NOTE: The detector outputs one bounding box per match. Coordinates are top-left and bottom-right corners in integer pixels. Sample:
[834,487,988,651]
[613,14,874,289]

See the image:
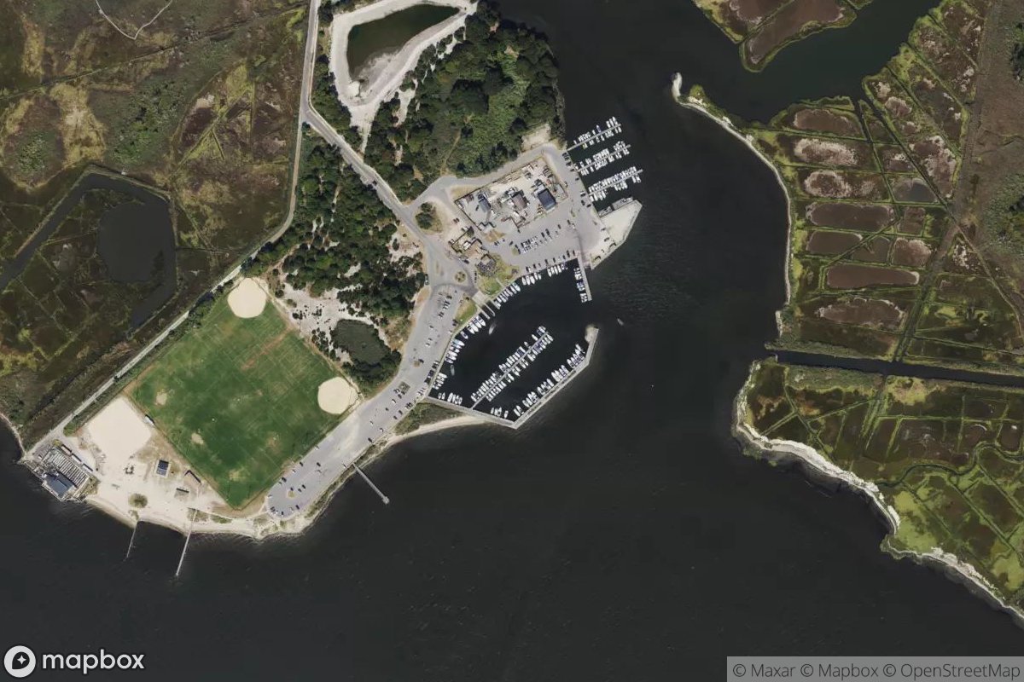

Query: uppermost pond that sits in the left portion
[347,4,458,77]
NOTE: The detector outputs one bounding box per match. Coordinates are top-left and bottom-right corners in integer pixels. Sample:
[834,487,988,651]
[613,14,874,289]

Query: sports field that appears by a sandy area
[125,278,358,510]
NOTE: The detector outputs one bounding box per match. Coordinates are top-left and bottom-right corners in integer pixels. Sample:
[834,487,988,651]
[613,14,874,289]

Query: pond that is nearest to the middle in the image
[333,319,389,364]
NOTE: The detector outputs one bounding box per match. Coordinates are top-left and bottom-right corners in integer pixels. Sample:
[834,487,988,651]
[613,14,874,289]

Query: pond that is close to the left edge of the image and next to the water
[0,173,177,323]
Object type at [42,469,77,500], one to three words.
building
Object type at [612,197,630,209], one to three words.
ship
